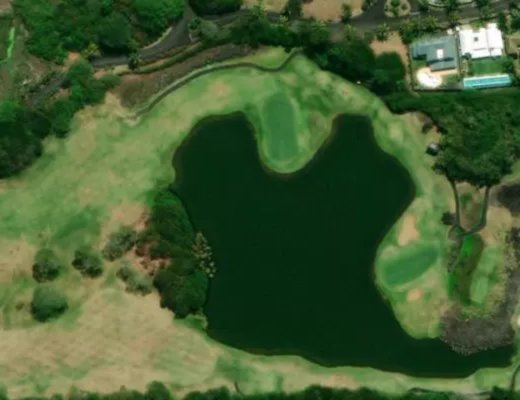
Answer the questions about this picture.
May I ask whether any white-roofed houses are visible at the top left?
No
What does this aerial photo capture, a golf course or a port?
golf course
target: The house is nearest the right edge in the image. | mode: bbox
[459,22,503,57]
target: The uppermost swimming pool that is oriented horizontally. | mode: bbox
[462,75,511,89]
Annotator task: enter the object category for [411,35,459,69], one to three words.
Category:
house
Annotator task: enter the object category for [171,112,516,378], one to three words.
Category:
pond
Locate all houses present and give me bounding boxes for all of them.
[459,22,503,57]
[411,35,459,69]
